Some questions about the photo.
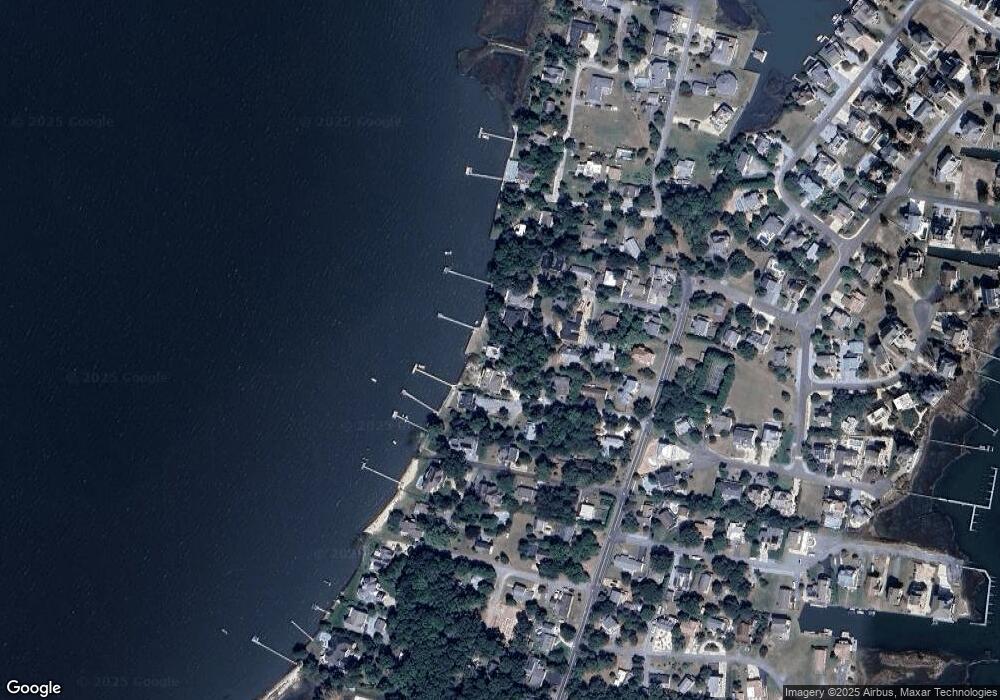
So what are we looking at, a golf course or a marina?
marina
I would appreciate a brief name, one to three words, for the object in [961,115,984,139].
house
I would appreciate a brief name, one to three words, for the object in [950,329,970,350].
house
